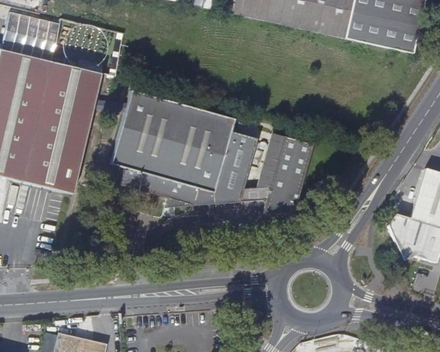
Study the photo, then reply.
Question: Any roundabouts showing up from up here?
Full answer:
Yes, you can see a roundabout in this photo.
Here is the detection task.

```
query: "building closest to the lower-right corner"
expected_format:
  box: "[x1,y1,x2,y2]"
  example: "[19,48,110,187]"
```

[388,214,440,264]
